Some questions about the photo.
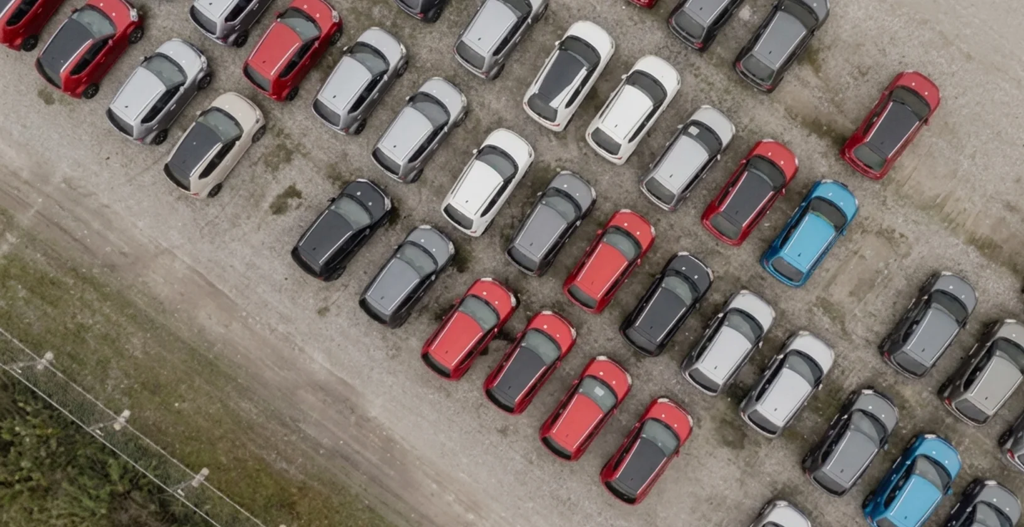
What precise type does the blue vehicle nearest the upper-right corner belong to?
car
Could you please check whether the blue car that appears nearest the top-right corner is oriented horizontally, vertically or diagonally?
diagonally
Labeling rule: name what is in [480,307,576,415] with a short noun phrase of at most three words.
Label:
car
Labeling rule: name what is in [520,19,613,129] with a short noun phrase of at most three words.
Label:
car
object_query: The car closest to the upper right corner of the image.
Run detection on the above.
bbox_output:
[834,70,938,179]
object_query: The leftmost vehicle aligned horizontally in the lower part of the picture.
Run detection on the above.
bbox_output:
[744,496,811,527]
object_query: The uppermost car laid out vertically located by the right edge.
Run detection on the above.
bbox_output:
[996,410,1024,474]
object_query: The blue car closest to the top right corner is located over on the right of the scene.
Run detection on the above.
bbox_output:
[755,178,856,287]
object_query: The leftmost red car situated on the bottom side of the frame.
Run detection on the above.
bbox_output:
[419,274,516,381]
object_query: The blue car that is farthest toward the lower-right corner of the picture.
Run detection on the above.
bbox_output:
[856,430,960,527]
